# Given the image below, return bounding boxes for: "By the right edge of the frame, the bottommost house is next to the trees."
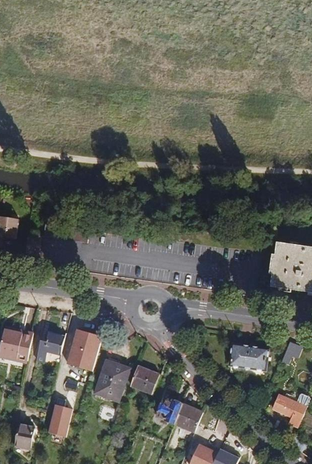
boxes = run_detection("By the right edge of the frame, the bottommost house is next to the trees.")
[272,394,308,430]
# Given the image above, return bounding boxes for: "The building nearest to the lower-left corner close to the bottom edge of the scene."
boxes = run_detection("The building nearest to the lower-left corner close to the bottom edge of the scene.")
[14,423,35,450]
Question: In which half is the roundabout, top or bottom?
bottom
